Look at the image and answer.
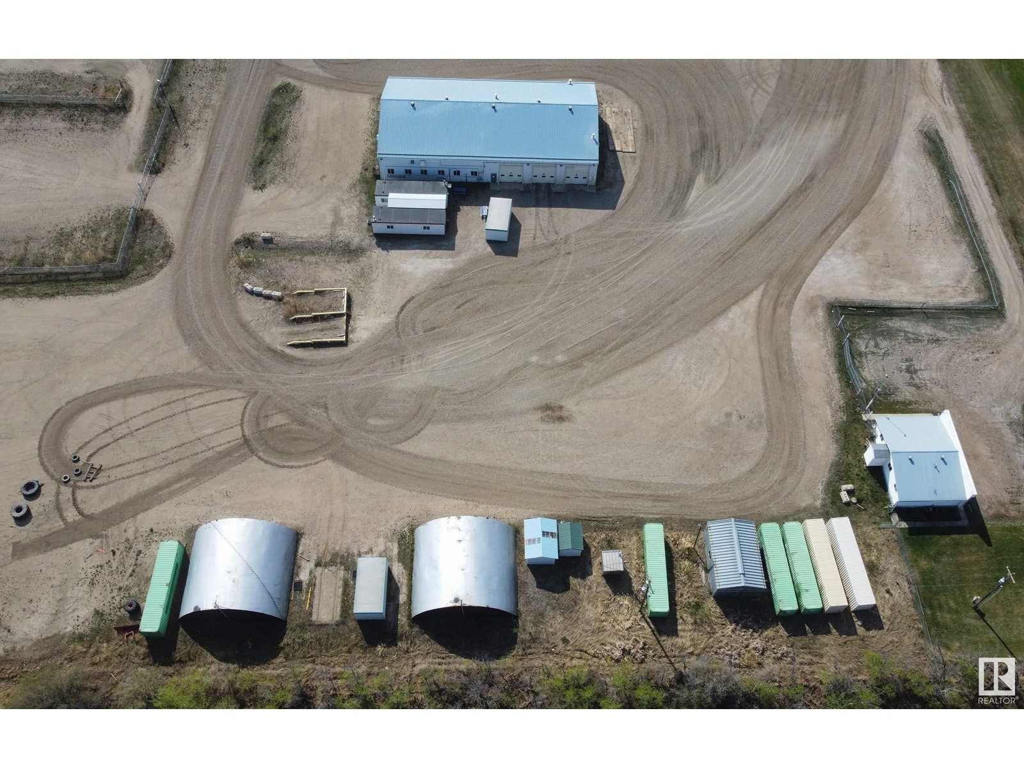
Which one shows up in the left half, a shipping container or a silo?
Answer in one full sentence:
You can see a shipping container in the left half.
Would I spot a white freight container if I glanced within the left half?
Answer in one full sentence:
No, within the left half there is no white freight container.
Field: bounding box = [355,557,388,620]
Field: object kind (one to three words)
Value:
shed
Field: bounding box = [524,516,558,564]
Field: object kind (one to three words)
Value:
shed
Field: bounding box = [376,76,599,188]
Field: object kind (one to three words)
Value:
building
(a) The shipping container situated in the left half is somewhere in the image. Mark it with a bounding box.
[139,540,183,637]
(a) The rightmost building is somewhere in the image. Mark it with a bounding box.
[855,406,976,512]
